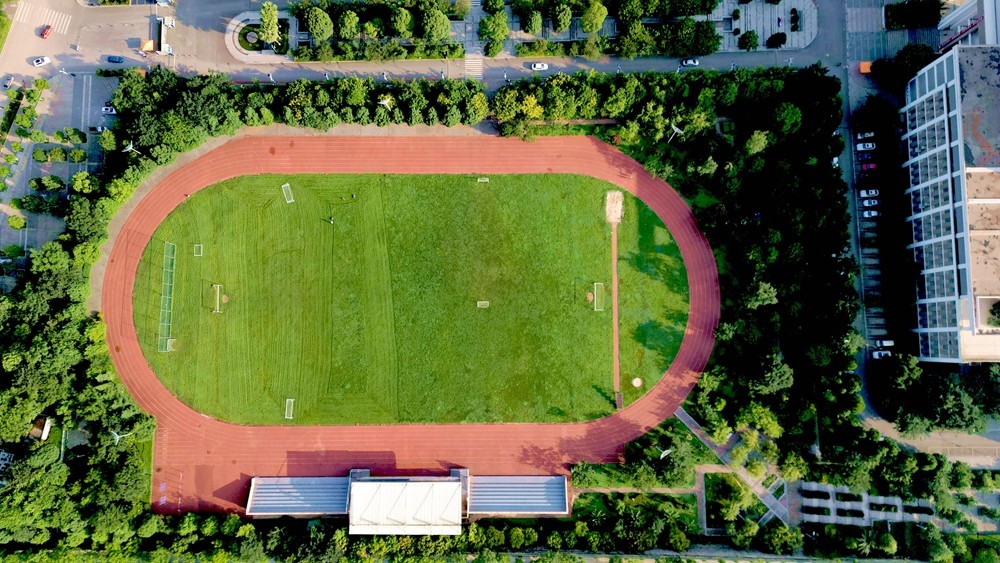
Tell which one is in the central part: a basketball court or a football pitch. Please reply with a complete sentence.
The one visible in the central part is a football pitch.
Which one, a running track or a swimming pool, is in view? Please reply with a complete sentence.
The image shows a running track.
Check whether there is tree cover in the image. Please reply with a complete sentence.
Yes, tree cover can be seen from above here.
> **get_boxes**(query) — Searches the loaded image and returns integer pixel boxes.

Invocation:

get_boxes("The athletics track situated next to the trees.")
[102,138,721,519]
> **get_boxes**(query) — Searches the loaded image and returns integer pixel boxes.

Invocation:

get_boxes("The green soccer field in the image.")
[133,175,690,425]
